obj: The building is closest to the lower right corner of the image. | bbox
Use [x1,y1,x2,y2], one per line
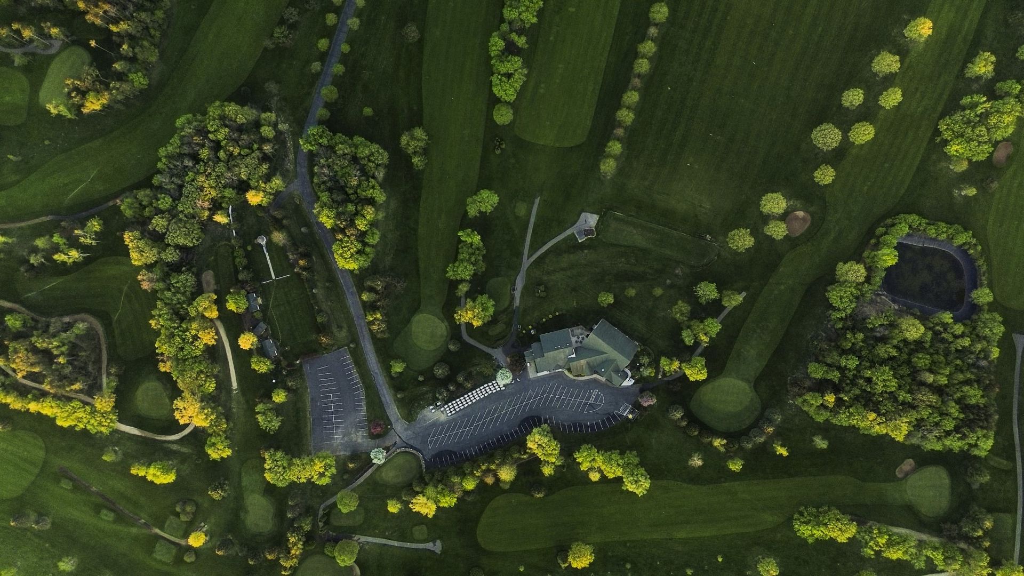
[525,318,639,387]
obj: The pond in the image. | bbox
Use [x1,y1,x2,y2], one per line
[883,241,965,314]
